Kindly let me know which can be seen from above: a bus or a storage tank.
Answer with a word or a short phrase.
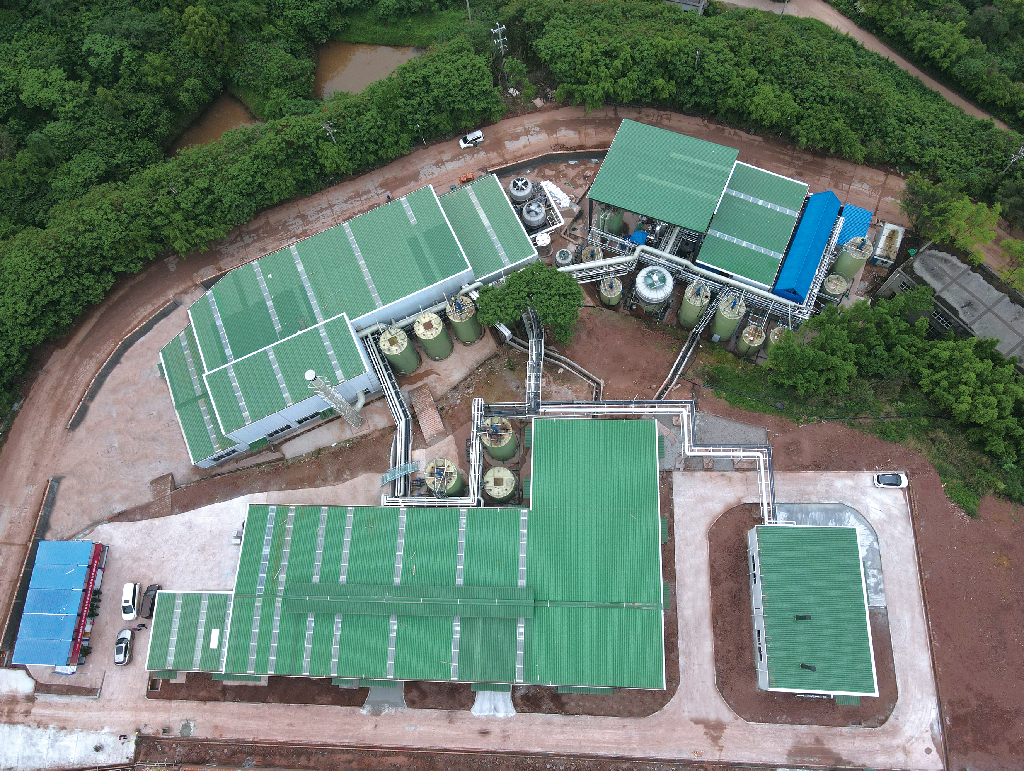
storage tank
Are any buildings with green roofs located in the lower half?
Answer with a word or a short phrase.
Yes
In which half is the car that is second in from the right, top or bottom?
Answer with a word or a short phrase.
top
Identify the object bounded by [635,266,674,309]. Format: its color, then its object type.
white cooling tower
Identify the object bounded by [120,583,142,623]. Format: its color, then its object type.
white car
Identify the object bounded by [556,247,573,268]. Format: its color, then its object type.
gray cooling tower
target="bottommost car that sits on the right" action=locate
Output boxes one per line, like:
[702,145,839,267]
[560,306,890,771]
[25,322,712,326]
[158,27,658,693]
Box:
[872,473,907,490]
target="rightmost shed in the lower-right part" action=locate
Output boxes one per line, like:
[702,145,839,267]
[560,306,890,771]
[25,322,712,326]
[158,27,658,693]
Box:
[749,524,881,711]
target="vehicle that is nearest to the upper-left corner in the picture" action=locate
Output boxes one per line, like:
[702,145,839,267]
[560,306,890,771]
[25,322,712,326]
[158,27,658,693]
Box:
[457,128,486,152]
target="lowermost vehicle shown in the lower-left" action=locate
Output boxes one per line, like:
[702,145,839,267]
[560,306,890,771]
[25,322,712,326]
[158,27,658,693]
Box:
[114,629,137,668]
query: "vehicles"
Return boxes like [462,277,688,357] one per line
[114,629,137,668]
[138,584,162,622]
[120,583,142,623]
[457,128,486,152]
[872,473,907,490]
